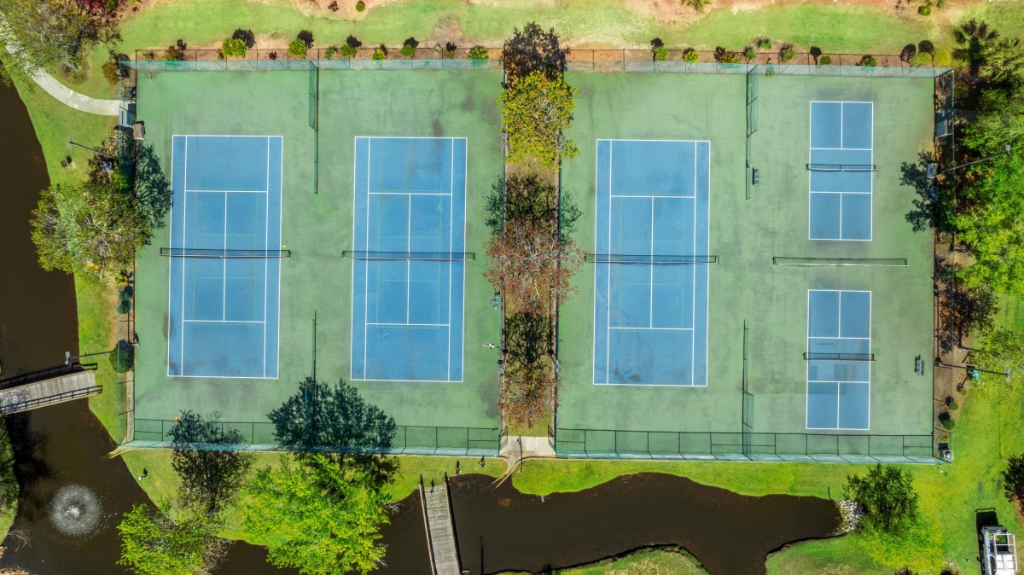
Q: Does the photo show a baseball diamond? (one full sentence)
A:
No, no baseball diamond is visible in the view.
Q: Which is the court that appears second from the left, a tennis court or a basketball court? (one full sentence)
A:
It looks like the court that appears second from the left is a tennis court.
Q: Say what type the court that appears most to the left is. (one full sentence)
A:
It turns out the court that appears most to the left is a tennis court.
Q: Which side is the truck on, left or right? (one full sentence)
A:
It is on the right.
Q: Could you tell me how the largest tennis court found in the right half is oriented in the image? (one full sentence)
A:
What the image shows is the largest tennis court found in the right half lying from top to bottom.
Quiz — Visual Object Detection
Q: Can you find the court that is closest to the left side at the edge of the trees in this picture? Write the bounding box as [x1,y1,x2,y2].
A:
[168,135,283,379]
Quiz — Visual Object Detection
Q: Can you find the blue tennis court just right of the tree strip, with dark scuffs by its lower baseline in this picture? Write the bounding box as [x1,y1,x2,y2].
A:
[593,139,710,387]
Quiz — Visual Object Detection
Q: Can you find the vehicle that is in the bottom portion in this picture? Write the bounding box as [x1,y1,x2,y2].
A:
[984,523,1019,575]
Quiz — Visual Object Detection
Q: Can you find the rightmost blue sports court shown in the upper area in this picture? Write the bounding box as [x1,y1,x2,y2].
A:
[809,101,873,240]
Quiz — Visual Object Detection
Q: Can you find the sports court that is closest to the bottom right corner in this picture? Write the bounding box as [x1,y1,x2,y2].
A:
[794,290,879,430]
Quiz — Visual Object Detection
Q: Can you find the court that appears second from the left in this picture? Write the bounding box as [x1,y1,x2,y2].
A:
[351,136,468,382]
